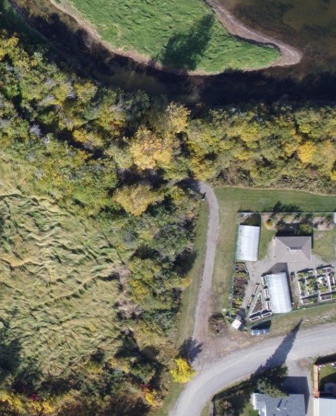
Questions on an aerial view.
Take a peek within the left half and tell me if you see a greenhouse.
No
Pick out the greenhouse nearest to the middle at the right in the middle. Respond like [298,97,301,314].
[233,225,259,262]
